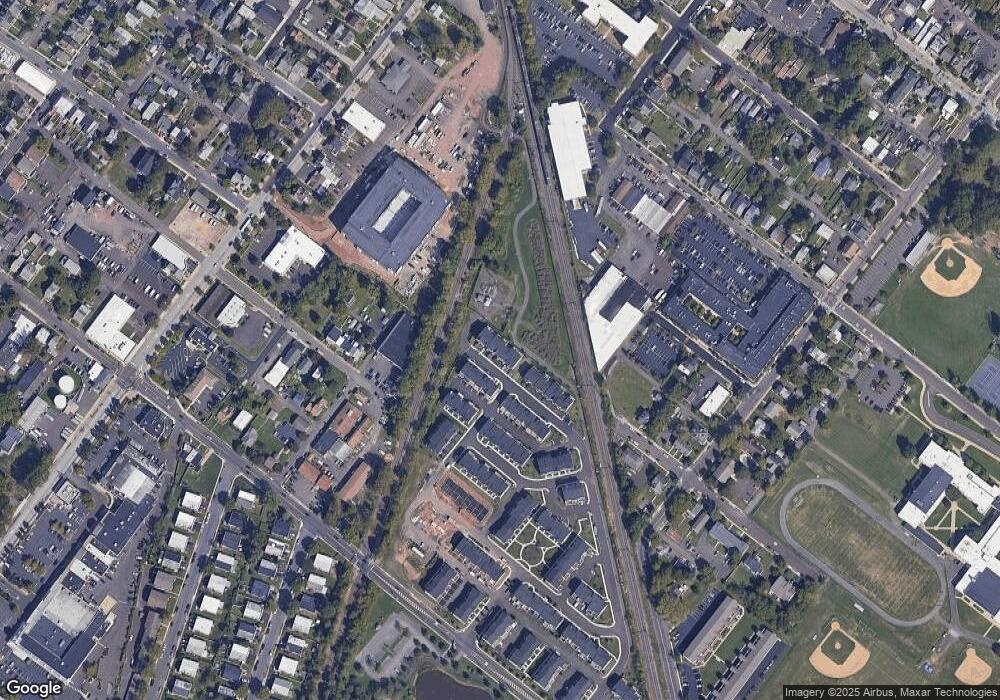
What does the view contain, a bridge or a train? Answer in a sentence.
Looking from above, you can make out a train.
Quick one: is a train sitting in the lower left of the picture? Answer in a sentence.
No, I can find no train in the lower left of the picture.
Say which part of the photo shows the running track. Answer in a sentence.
Look in the bottom right portion of the view to spot the running track.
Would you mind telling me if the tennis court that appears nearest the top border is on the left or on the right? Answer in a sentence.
It is on the right.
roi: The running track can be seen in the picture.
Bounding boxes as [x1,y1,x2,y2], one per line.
[779,478,947,626]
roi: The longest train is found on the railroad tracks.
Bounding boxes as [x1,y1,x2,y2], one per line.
[510,6,551,185]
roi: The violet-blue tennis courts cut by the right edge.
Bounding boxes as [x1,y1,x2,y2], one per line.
[967,355,1000,407]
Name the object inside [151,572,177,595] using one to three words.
house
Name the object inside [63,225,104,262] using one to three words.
building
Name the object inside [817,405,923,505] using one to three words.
sports field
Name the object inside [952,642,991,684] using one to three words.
baseball field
